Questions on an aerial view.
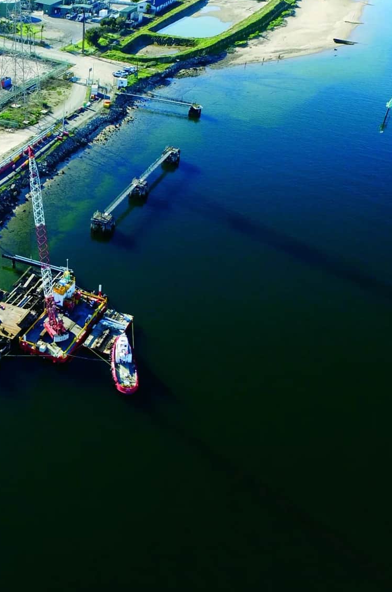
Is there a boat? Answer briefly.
Yes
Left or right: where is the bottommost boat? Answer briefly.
left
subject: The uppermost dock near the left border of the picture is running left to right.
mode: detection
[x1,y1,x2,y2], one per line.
[4,256,74,280]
